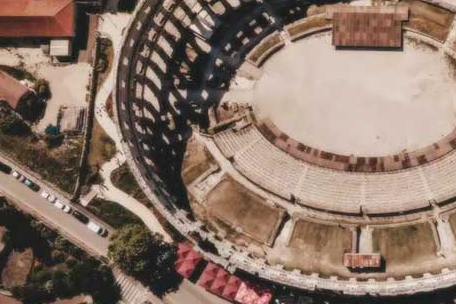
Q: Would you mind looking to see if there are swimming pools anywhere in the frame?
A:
No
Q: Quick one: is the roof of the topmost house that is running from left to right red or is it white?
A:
red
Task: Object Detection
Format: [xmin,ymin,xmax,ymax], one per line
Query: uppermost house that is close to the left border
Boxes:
[0,0,85,41]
